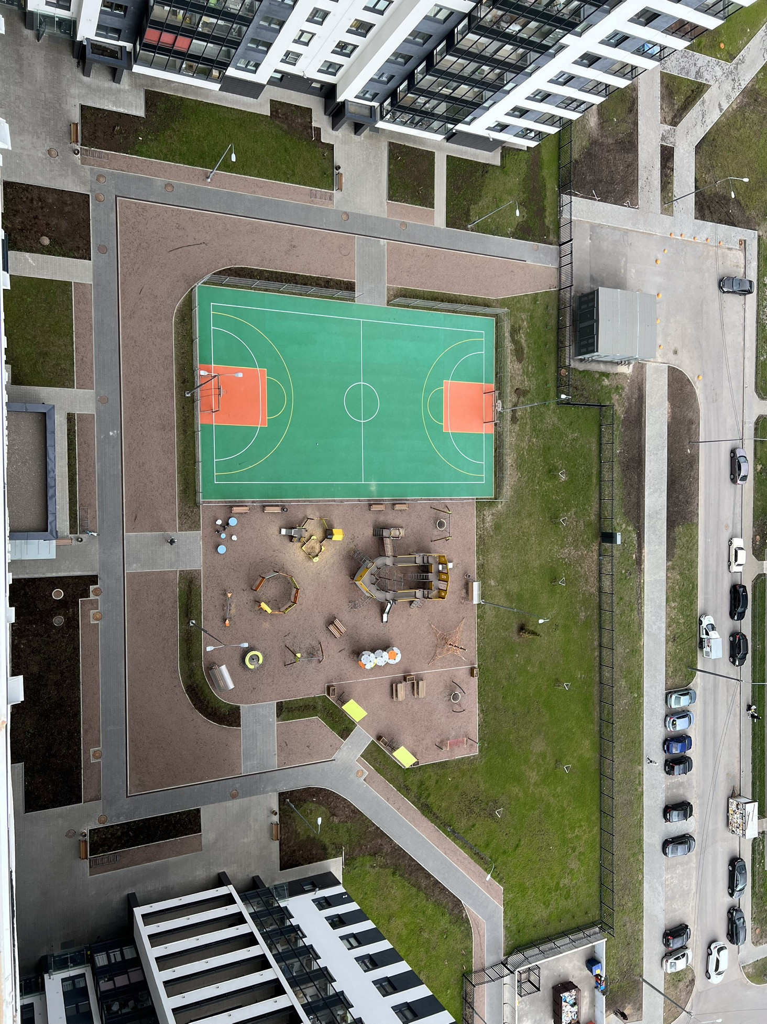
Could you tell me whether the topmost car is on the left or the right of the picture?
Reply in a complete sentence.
The topmost car sits on the right side.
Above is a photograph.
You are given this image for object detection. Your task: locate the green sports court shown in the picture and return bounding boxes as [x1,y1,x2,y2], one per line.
[197,284,496,502]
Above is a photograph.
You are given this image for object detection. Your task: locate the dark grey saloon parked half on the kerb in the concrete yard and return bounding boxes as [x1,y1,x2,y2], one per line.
[716,274,746,296]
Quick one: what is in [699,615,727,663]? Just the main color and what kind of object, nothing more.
white truck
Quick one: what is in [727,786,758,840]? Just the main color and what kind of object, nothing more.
white trailer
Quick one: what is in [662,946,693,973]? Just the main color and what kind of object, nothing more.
white car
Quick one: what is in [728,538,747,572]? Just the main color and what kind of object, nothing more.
white car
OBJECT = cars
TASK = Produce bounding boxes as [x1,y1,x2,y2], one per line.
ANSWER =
[730,447,749,484]
[728,583,747,622]
[666,689,697,708]
[726,906,747,949]
[728,857,747,898]
[663,735,693,754]
[716,274,746,296]
[728,538,747,572]
[663,833,695,857]
[664,754,695,777]
[706,942,726,983]
[665,710,694,731]
[662,946,693,973]
[663,800,694,823]
[663,923,692,950]
[729,632,748,667]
